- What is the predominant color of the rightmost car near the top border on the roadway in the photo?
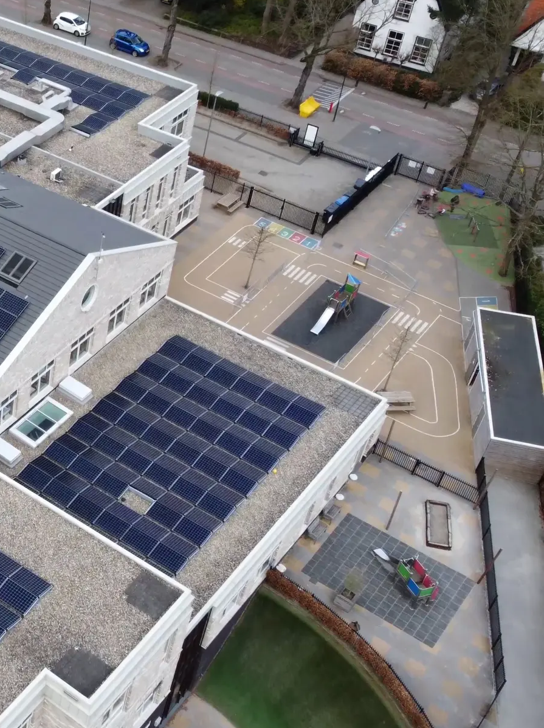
blue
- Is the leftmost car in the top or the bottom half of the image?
top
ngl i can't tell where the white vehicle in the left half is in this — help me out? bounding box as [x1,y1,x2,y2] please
[55,9,92,34]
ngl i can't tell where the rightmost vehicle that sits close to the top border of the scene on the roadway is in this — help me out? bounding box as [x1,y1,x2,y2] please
[114,29,154,56]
